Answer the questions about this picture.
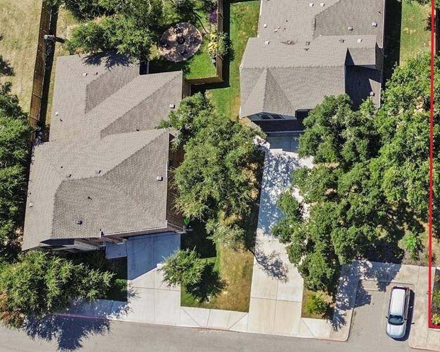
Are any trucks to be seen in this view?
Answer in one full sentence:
No, no truck is visible in the scene.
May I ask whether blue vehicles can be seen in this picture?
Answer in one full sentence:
No, I can see no blue vehicle in this picture.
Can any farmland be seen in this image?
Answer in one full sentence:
No, no farmland is visible.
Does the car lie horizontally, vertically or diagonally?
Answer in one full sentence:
What the image shows is the car lying vertically.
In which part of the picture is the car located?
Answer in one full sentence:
The car appears toward the bottom right of the photo.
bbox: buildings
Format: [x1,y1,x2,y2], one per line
[23,53,189,256]
[240,0,384,135]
